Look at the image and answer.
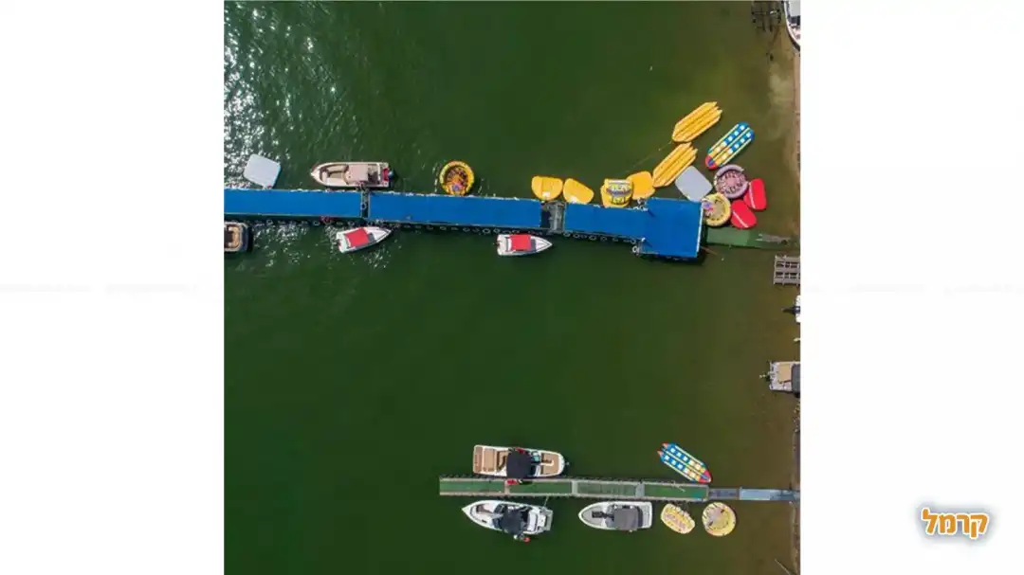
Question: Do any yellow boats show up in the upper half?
Yes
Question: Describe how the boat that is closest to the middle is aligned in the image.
from side to side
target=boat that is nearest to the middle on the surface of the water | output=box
[490,234,553,256]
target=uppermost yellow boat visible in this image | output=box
[670,97,726,144]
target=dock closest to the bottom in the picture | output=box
[440,478,802,506]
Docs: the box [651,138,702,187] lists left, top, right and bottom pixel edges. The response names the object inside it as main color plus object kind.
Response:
yellow boat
